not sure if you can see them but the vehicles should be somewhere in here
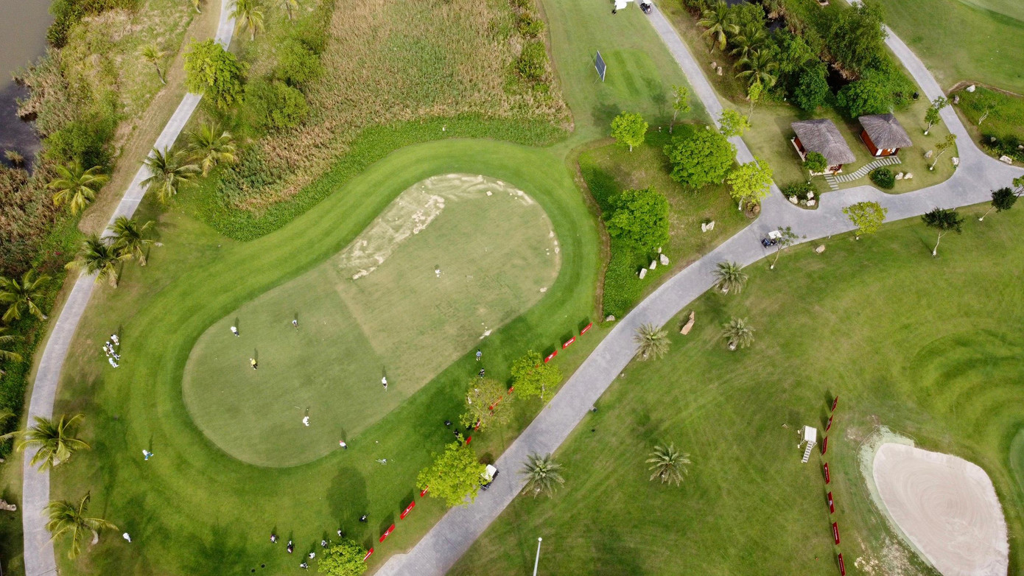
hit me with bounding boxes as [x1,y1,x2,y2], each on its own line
[476,466,500,497]
[760,228,785,252]
[641,0,654,15]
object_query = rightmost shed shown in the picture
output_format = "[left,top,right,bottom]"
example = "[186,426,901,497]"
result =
[856,113,913,160]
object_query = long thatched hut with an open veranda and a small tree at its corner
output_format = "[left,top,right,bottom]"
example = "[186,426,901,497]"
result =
[786,119,856,178]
